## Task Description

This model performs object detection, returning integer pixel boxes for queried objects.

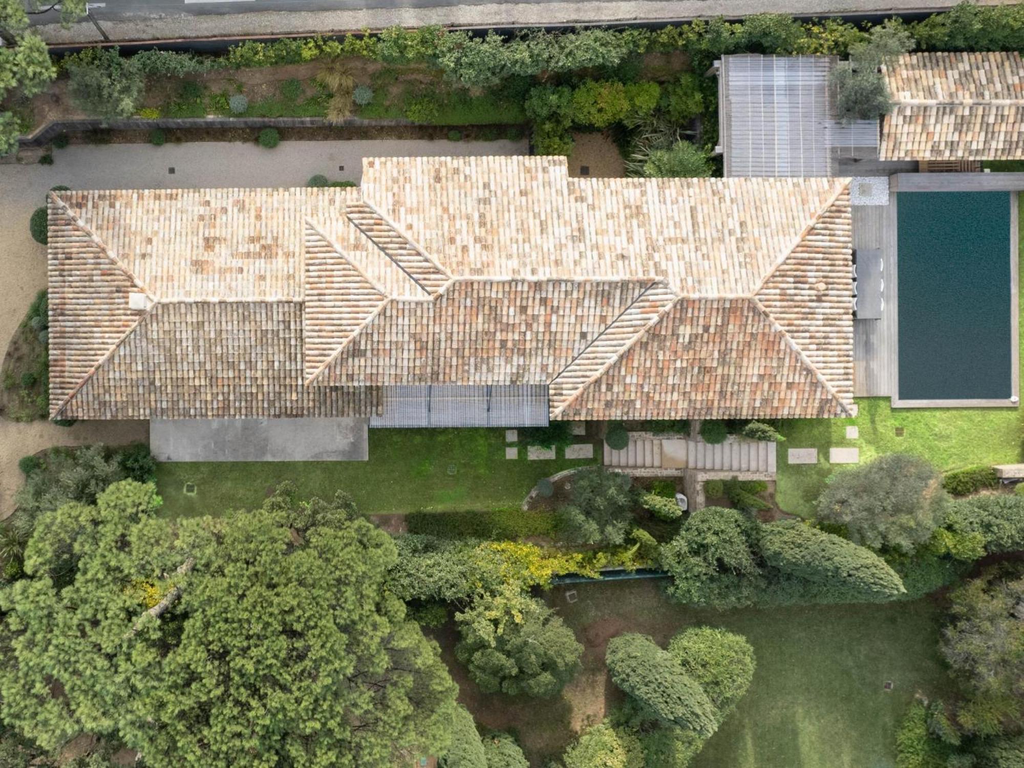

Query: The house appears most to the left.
[46,151,854,422]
